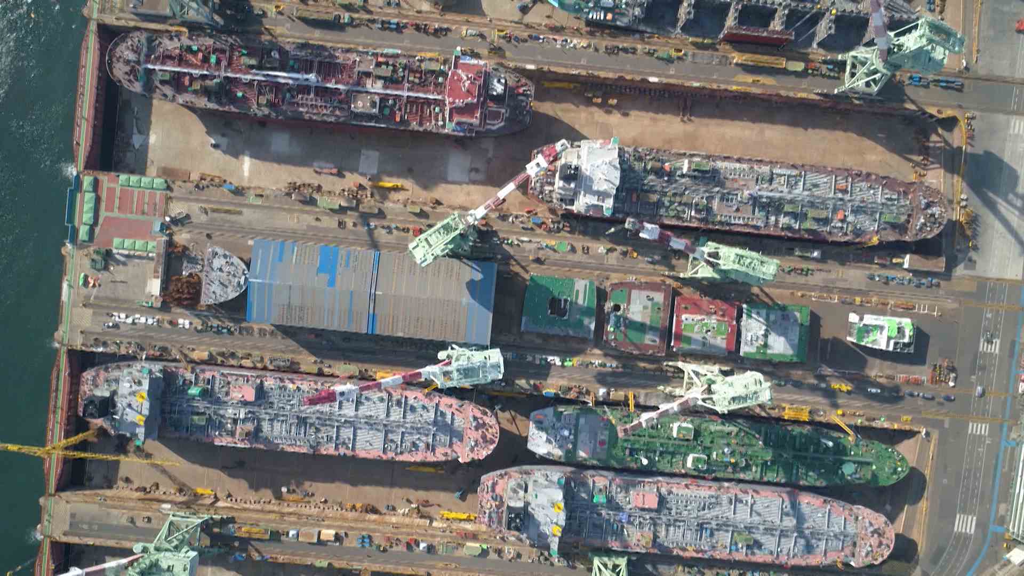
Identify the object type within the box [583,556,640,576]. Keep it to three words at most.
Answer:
crane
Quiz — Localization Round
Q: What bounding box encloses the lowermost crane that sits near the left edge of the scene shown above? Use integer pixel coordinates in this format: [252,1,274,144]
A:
[1,512,210,576]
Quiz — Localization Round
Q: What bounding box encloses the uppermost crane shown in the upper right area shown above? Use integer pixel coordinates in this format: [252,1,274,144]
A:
[833,0,958,96]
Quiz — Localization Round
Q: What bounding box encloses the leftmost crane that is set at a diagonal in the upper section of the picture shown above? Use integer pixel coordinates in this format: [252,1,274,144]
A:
[405,143,563,275]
